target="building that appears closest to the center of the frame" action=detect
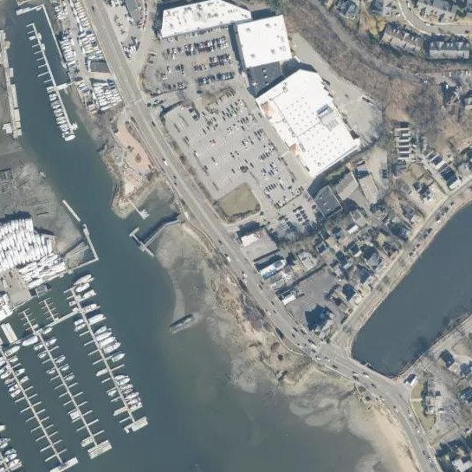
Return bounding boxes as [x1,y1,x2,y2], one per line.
[242,229,278,260]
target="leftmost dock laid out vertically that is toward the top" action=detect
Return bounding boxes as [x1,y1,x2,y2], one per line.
[0,31,22,136]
